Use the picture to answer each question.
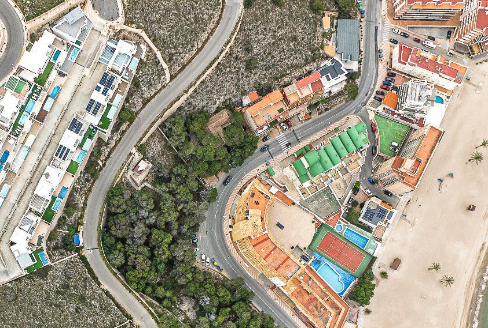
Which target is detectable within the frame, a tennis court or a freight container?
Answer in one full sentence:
Of the two, only a tennis court appears.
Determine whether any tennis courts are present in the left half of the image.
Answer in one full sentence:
No, no tennis court appears in the left half of the image.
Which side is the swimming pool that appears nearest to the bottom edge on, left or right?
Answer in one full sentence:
It is on the right.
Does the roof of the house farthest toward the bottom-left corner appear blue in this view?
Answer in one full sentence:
No, the color of the roof of the house farthest toward the bottom-left corner is white.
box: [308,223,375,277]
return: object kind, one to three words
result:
tennis court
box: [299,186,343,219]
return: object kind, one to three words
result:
sports court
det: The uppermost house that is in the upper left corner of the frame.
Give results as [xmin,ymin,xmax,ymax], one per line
[51,5,92,49]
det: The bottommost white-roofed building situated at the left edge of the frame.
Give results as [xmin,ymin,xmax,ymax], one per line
[10,240,37,270]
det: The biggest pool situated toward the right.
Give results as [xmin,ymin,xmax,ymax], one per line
[314,260,346,294]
